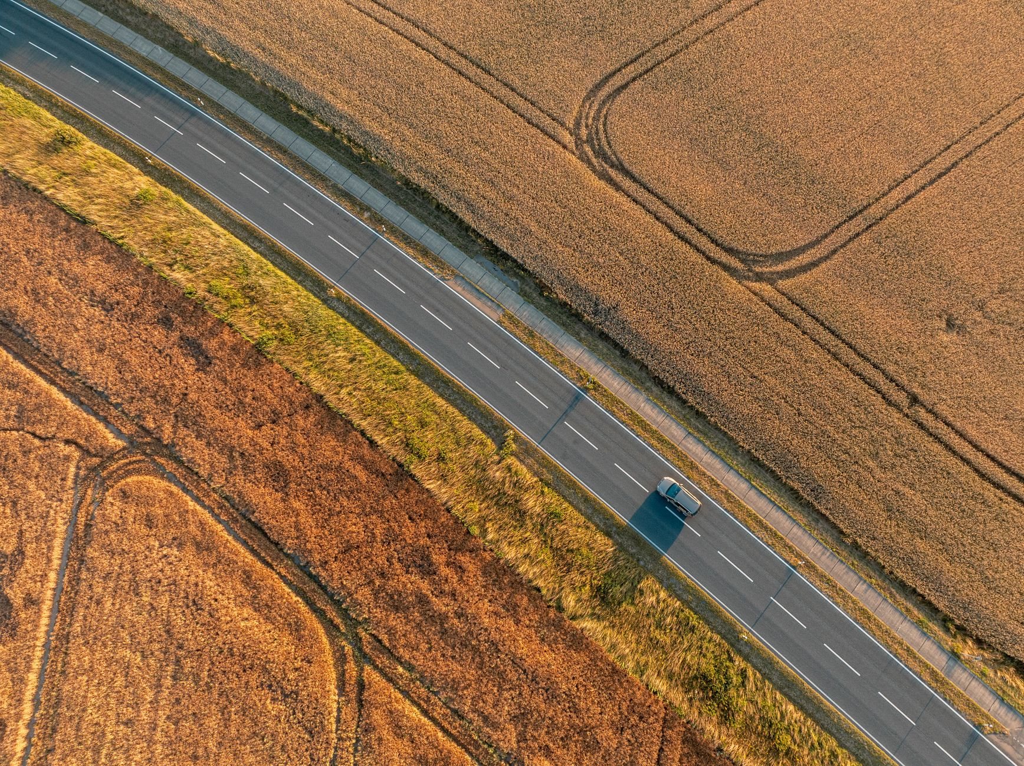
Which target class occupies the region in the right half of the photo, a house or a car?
car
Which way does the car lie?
at an angle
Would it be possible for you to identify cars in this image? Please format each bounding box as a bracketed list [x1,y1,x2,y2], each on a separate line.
[657,476,704,518]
